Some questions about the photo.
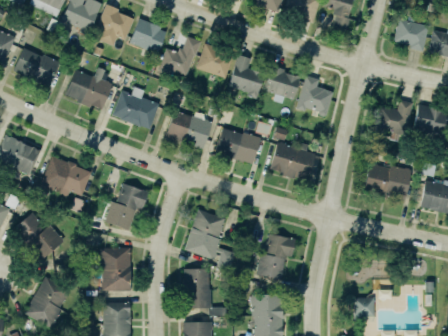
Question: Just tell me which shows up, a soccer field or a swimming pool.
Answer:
swimming pool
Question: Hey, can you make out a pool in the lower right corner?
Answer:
Yes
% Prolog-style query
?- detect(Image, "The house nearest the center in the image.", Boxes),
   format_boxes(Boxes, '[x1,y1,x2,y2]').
[218,125,262,164]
